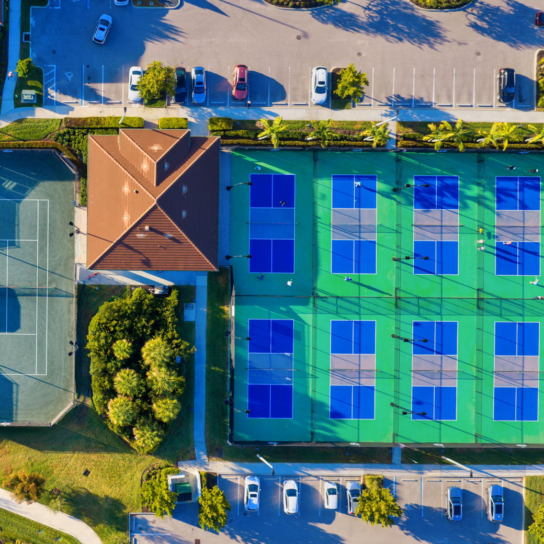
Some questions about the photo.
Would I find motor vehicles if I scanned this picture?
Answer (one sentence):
Yes, there's a motor vehicle here.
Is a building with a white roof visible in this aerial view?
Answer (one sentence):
No, I can't see a single building with a white roof in this photo.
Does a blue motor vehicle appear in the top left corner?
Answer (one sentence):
Yes, you'll find a blue motor vehicle in the top left corner.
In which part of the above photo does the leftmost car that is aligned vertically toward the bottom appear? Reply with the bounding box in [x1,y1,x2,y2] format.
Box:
[244,475,262,512]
